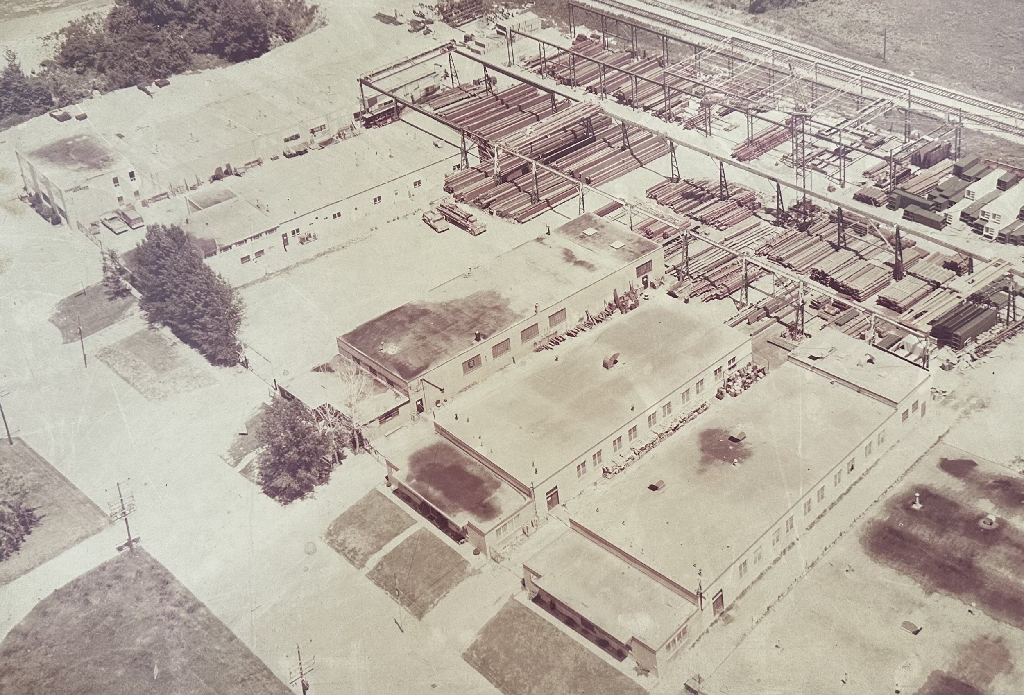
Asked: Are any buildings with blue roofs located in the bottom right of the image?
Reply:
No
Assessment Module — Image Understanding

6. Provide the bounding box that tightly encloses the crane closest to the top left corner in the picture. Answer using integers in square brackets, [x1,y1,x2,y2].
[359,41,464,88]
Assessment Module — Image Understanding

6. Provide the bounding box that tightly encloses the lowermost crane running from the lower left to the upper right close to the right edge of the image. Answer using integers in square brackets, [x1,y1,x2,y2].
[897,255,1018,336]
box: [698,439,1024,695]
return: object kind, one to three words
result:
warehouse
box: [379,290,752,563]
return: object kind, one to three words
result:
building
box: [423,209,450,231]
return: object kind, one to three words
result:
truck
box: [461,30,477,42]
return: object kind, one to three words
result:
vehicle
